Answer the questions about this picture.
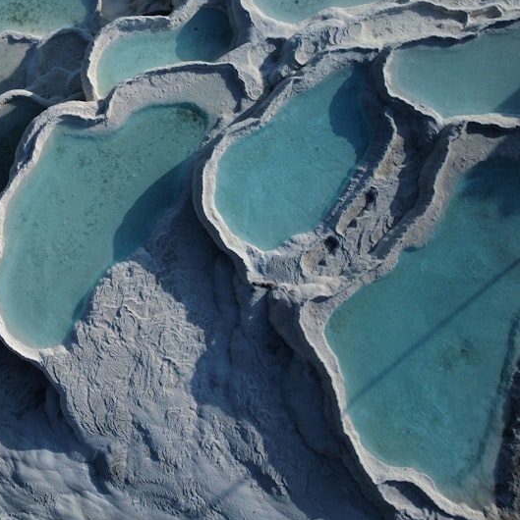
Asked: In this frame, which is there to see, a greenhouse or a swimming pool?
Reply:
swimming pool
